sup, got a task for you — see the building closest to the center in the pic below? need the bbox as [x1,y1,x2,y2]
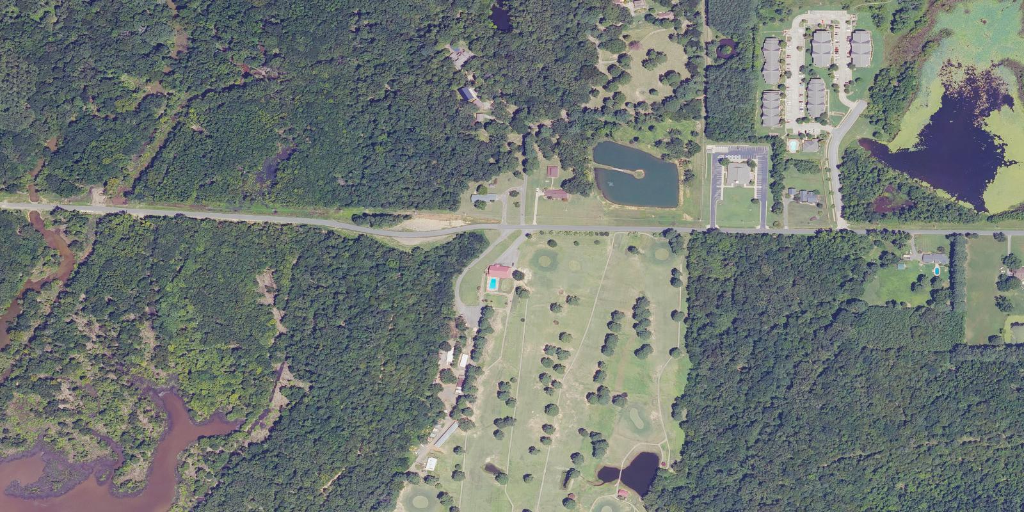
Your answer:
[488,263,512,278]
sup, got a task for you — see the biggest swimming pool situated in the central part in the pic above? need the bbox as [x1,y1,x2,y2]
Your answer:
[487,277,499,292]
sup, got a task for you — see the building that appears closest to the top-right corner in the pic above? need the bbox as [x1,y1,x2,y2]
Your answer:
[852,29,872,68]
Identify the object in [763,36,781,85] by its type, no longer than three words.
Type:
building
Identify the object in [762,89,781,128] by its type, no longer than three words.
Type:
building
